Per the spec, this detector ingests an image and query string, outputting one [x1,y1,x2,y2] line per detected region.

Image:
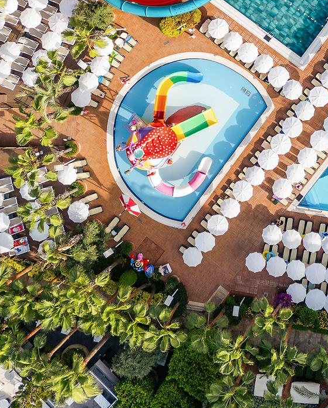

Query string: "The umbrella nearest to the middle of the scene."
[119,194,141,216]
